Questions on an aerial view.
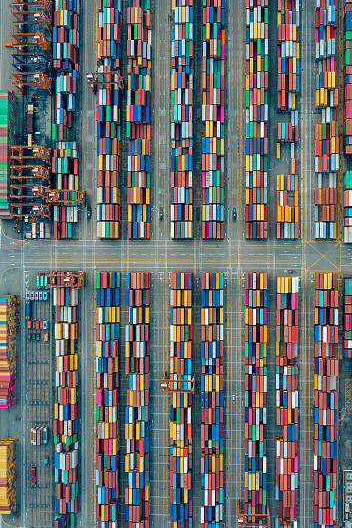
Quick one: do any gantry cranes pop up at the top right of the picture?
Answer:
No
